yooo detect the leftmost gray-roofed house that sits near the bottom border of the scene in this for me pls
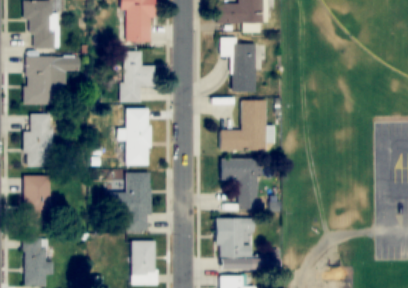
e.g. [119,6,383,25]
[21,238,53,286]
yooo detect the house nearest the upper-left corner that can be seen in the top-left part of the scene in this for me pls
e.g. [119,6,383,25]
[21,0,60,49]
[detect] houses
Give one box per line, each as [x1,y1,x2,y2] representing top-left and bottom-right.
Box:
[218,272,256,288]
[219,158,264,208]
[118,50,156,102]
[21,238,53,286]
[218,100,275,151]
[216,0,274,32]
[216,35,264,92]
[118,0,156,44]
[102,168,154,234]
[115,107,152,166]
[22,49,80,105]
[21,0,60,49]
[214,218,258,270]
[128,240,158,286]
[22,113,52,167]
